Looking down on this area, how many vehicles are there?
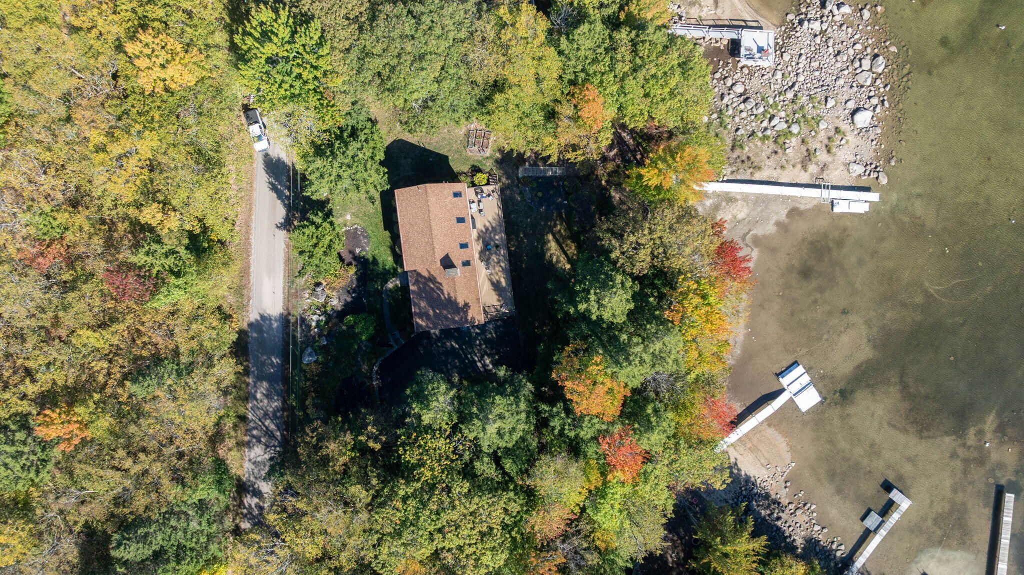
1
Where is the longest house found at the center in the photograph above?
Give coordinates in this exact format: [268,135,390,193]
[392,181,485,332]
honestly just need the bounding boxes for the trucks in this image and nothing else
[243,106,271,155]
